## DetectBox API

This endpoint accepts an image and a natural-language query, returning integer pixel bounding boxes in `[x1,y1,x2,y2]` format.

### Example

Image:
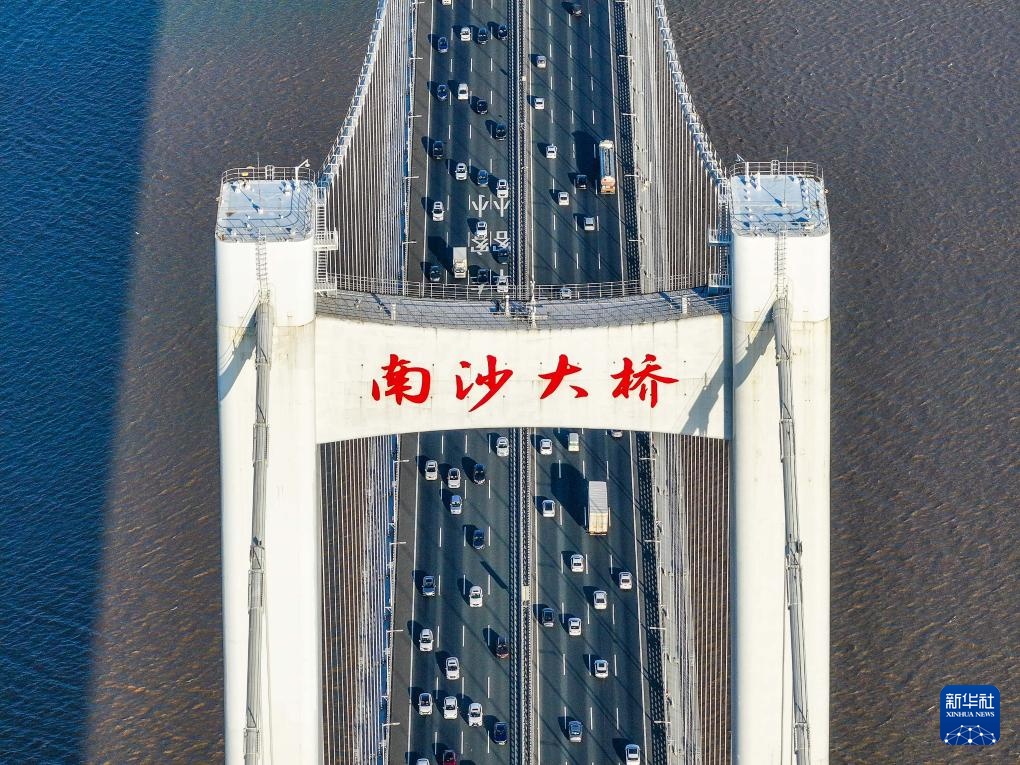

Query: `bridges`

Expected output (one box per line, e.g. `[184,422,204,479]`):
[215,0,831,765]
